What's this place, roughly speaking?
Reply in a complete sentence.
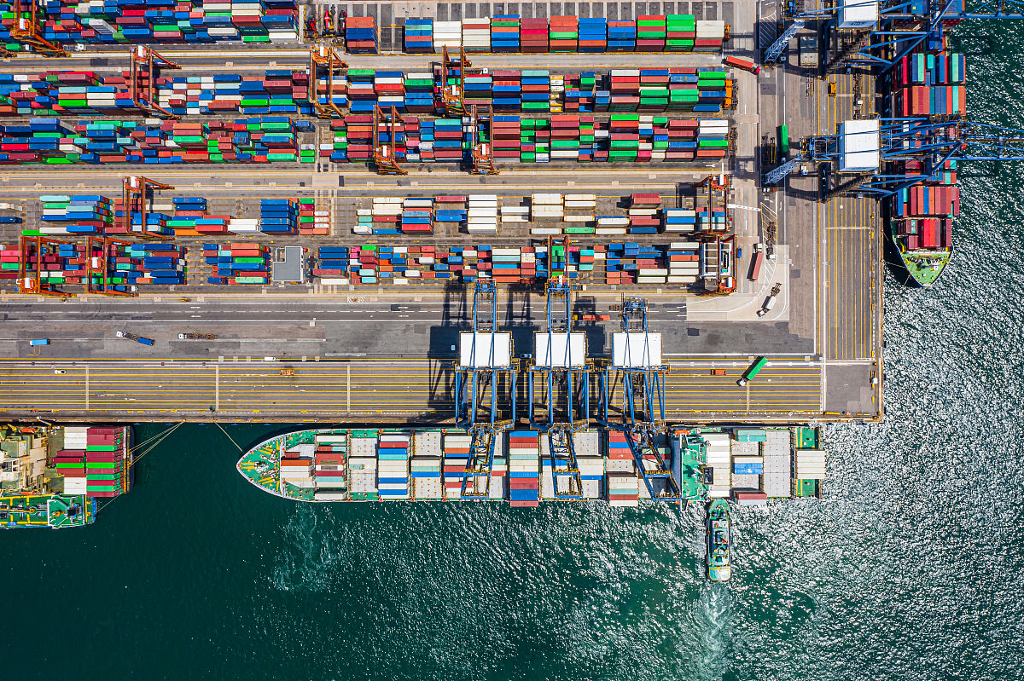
This image shows a port.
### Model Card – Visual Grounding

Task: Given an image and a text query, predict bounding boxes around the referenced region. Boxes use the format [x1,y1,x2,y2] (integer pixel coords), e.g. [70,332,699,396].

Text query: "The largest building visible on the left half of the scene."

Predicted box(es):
[272,244,306,281]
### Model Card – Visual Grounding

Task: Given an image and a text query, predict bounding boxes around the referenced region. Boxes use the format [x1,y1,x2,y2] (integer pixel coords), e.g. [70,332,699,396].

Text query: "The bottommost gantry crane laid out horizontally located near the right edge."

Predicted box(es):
[766,105,1024,207]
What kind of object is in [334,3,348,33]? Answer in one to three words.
work vehicle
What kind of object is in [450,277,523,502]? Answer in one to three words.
container crane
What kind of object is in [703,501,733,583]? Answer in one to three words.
boat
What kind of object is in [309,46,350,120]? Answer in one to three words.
container crane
